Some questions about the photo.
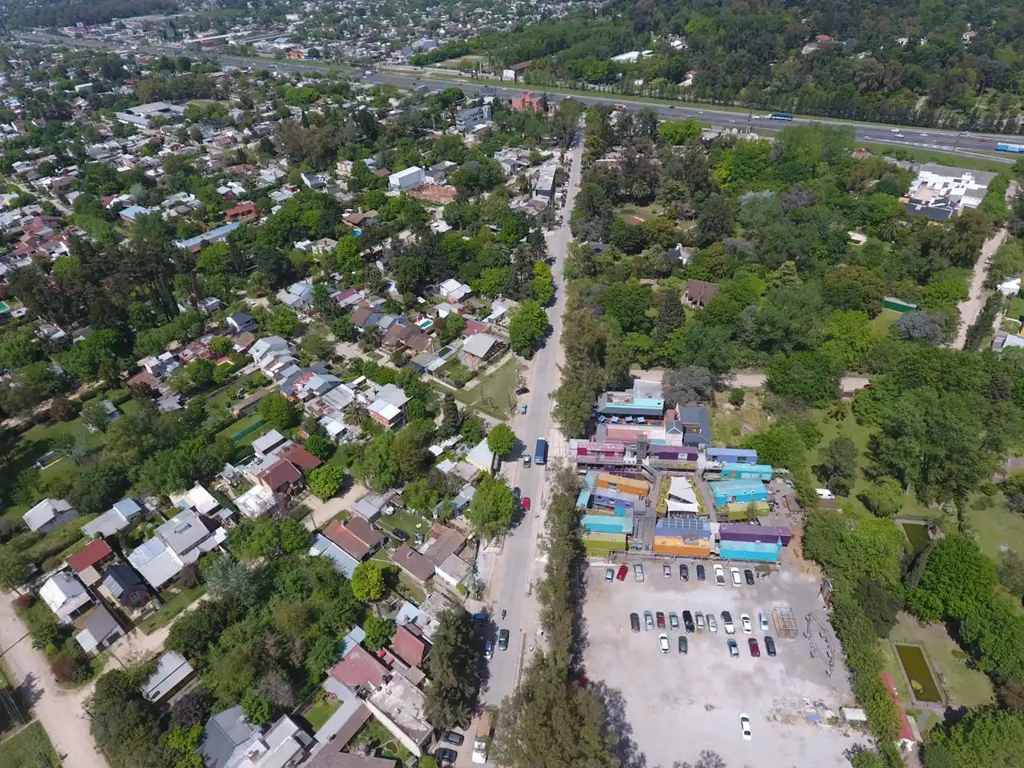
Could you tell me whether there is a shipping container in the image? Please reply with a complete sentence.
Yes, there is a shipping container in the image.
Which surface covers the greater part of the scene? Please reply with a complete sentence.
Most of the picture is covered by trees.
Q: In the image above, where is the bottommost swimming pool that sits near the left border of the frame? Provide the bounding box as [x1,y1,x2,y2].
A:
[35,449,63,469]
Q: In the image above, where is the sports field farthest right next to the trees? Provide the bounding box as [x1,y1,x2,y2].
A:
[432,56,490,74]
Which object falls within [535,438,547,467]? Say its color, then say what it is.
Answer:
blue vehicle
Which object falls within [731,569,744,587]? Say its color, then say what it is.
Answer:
white vehicle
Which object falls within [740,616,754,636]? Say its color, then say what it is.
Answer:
white car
